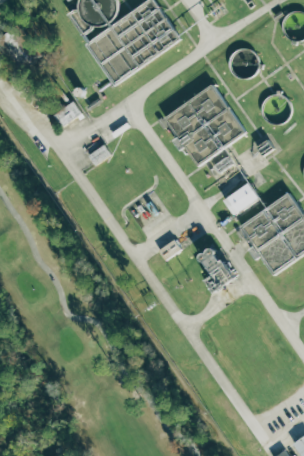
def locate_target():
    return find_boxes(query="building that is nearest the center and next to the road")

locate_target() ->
[162,238,187,261]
